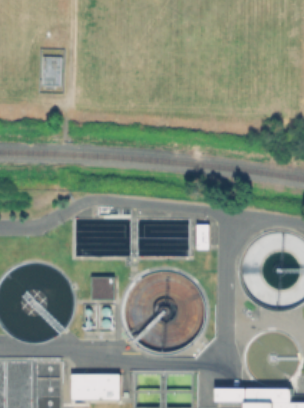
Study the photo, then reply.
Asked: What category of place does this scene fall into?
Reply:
industrial area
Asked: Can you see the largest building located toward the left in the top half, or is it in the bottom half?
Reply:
bottom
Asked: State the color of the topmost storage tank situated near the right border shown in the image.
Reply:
white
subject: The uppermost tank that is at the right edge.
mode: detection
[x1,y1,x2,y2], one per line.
[240,230,304,310]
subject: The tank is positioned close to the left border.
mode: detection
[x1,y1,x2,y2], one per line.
[0,262,78,344]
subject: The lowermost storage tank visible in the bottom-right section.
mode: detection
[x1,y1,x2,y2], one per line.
[244,328,304,388]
